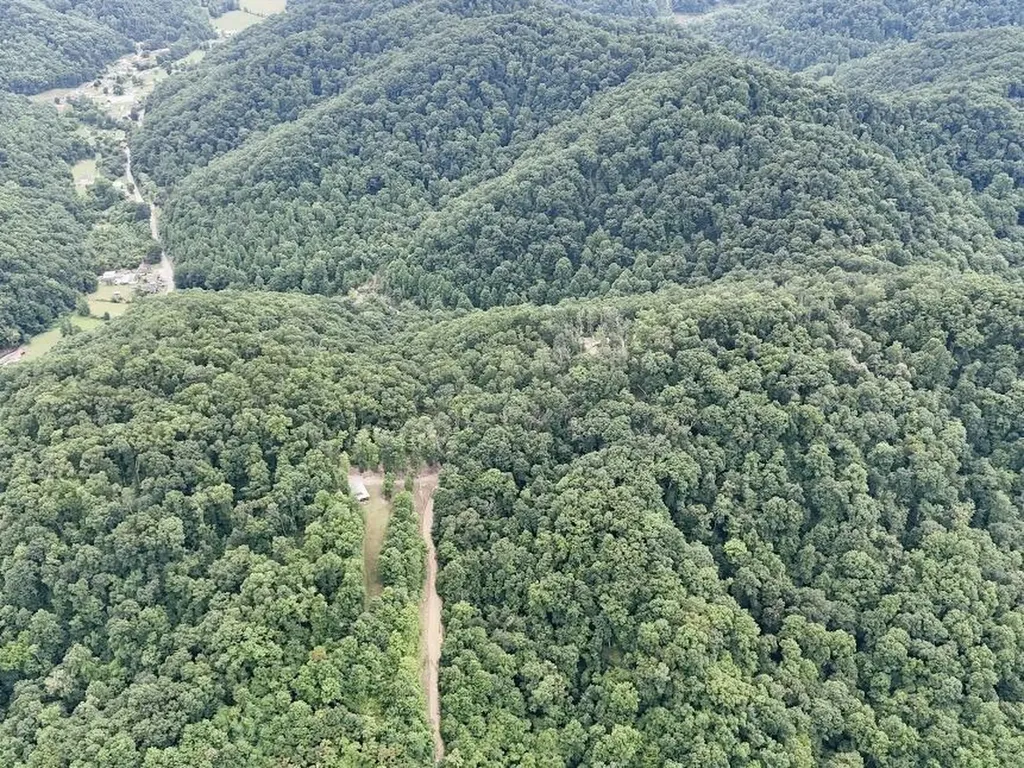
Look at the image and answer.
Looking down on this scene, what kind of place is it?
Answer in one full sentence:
It's a forest.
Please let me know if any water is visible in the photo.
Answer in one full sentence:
No, the scene doesn't show any water.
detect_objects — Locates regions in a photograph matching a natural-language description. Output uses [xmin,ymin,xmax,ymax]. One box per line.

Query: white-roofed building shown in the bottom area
[351,476,372,505]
